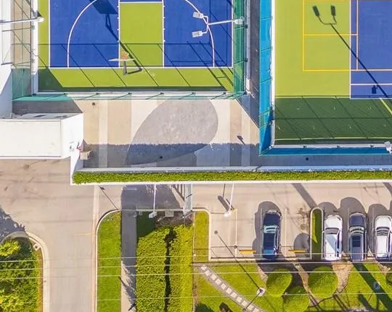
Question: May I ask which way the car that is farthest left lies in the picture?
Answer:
up and down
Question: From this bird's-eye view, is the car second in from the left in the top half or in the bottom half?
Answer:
bottom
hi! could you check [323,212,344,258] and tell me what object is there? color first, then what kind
white car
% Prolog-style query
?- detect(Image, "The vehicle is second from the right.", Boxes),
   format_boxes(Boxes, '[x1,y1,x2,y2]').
[345,212,368,257]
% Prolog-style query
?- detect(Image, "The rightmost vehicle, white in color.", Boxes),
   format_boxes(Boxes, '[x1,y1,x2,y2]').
[373,211,392,257]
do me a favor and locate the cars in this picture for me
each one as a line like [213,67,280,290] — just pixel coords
[323,212,344,258]
[345,212,368,257]
[260,210,283,255]
[373,211,392,257]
